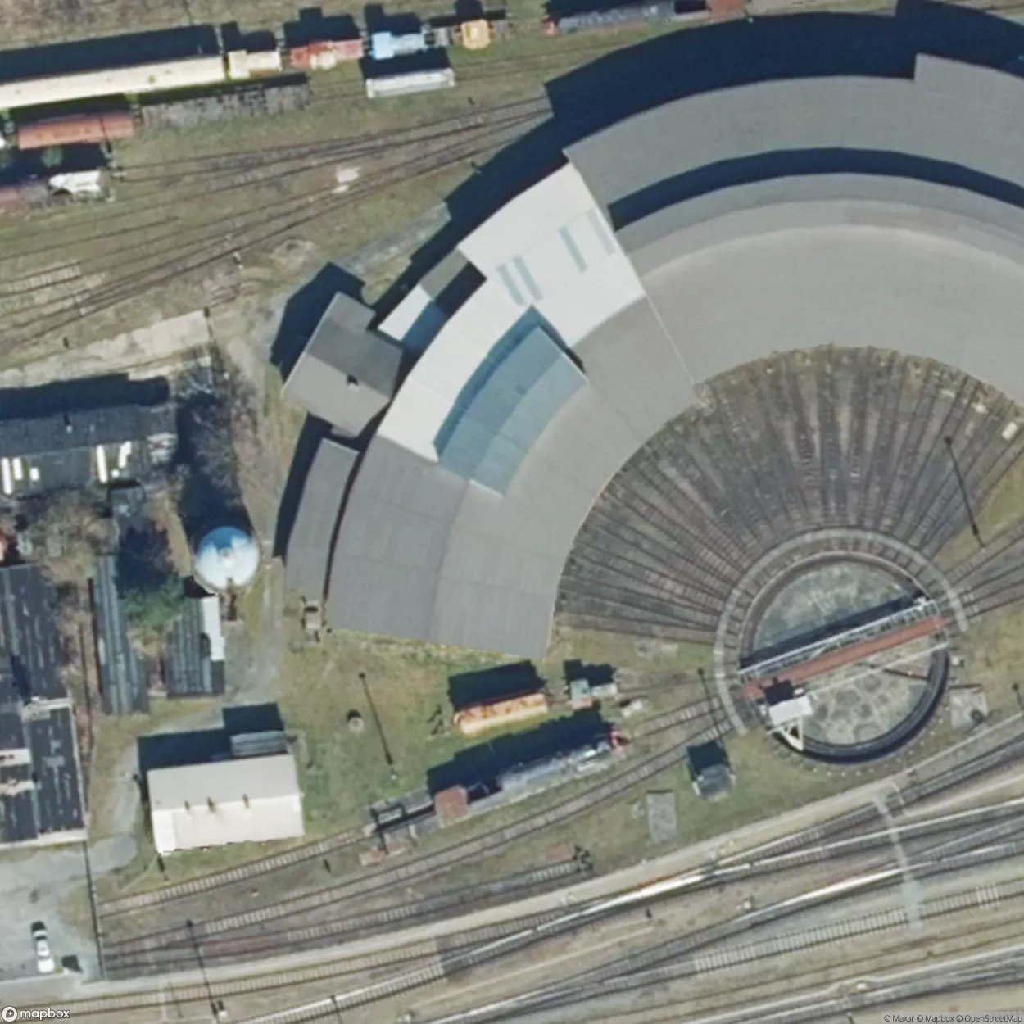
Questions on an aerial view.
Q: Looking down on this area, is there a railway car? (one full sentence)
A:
Yes, I can see a railway car in this picture.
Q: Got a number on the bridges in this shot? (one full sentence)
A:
Just 1 bridge appears in this view.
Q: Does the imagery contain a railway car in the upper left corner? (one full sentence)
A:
Yes, a railway car is visible in the upper left corner.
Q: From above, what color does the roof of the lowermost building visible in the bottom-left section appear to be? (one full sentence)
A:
From above, the roof of the lowermost building visible in the bottom-left section looks white.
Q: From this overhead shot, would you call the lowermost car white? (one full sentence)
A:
Yes, the lowermost car is white.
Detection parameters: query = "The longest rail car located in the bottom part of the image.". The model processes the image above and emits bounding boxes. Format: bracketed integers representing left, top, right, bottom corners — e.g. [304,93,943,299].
[479,727,633,801]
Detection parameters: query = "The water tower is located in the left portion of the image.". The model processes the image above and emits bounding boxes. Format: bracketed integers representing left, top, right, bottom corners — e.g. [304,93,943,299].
[195,526,258,617]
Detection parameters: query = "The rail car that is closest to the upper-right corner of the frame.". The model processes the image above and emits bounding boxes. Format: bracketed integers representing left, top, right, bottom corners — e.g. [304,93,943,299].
[544,0,685,37]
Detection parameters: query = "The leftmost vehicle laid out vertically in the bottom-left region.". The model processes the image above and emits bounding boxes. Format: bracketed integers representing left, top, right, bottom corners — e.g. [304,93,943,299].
[33,930,53,974]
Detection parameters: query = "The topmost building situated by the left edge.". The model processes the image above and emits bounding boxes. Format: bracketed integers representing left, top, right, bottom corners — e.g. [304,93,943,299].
[0,404,178,498]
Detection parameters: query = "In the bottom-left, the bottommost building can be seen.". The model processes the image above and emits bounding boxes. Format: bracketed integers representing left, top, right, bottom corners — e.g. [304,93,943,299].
[147,732,303,854]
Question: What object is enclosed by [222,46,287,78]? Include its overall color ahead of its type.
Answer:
white rail car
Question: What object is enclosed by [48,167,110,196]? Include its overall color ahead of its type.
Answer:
white work vehicle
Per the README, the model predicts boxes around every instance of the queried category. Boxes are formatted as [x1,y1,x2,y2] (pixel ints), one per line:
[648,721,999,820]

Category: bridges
[738,597,951,751]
